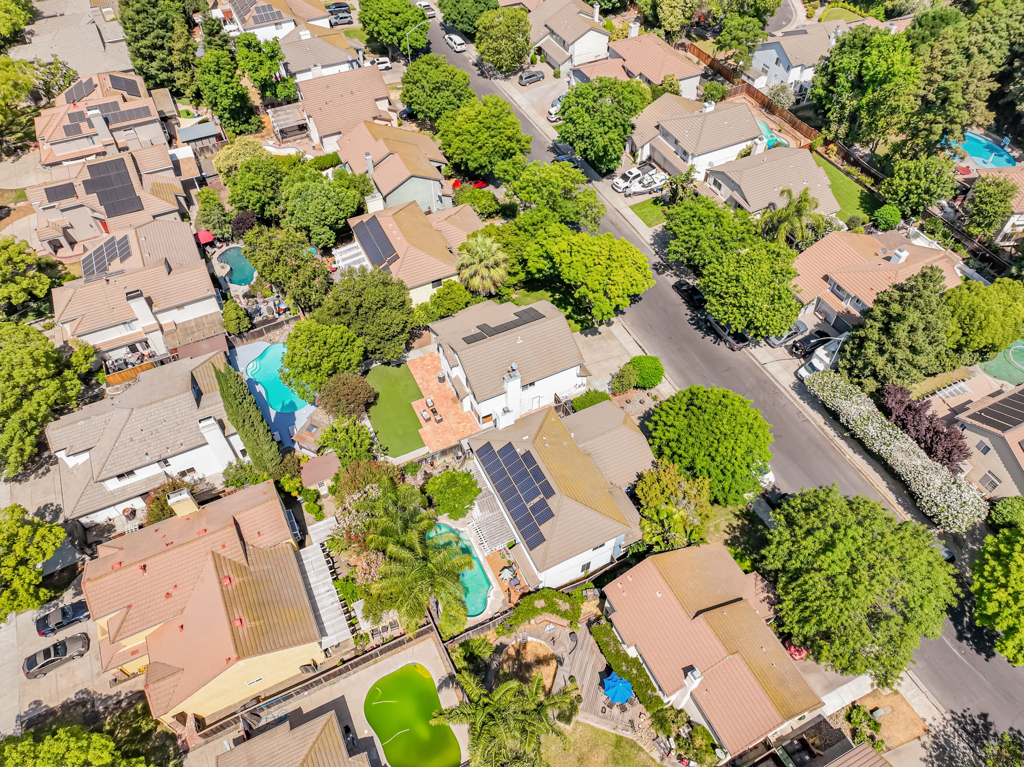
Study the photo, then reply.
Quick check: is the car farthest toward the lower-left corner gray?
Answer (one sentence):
Yes, the car farthest toward the lower-left corner appears gray.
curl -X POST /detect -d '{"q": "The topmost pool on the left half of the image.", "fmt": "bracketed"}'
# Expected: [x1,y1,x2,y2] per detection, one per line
[265,144,316,170]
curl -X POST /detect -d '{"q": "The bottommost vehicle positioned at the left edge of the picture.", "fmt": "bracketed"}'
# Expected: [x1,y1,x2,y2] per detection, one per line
[22,632,88,679]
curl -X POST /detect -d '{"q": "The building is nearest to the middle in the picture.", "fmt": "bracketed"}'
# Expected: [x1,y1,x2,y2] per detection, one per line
[428,300,592,427]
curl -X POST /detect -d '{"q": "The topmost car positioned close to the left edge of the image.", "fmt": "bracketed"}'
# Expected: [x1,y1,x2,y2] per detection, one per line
[33,599,92,636]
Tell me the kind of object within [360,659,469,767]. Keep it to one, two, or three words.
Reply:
swimming pool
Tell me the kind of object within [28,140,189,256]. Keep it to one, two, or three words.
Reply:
house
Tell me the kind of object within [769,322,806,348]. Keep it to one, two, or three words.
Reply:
car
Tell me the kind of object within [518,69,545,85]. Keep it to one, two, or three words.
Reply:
car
